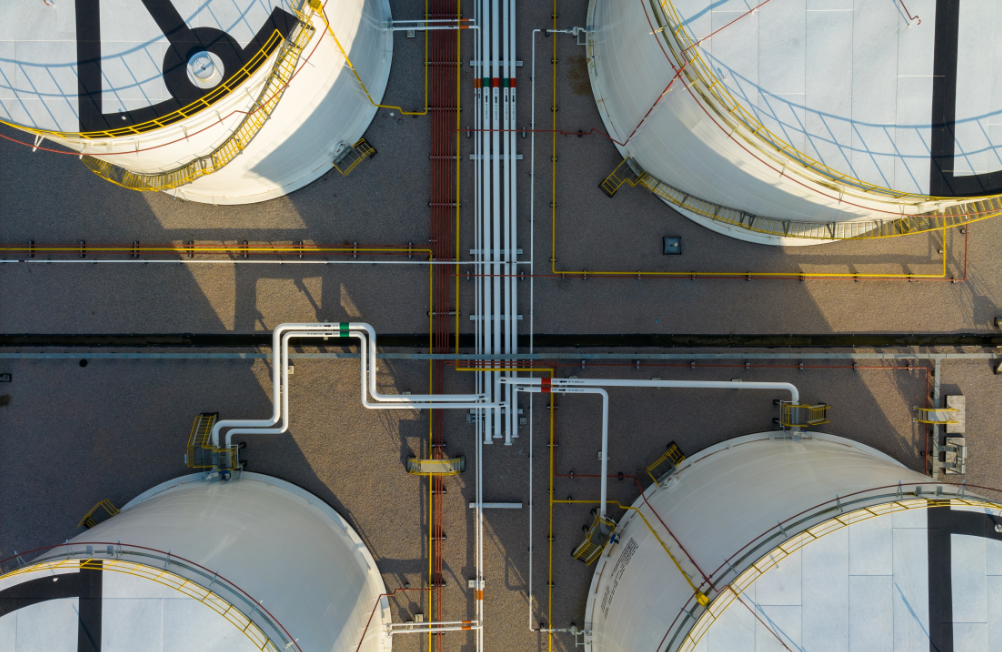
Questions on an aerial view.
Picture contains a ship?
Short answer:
No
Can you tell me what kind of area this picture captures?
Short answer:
industrial area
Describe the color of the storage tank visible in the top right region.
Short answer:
white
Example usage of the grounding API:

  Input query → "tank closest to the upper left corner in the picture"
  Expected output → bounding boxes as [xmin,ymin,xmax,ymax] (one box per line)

[0,0,392,205]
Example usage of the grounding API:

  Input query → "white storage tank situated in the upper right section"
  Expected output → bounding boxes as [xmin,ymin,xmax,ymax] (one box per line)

[586,0,1002,246]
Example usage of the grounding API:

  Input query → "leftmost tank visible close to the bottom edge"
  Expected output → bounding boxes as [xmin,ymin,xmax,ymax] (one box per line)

[0,472,392,652]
